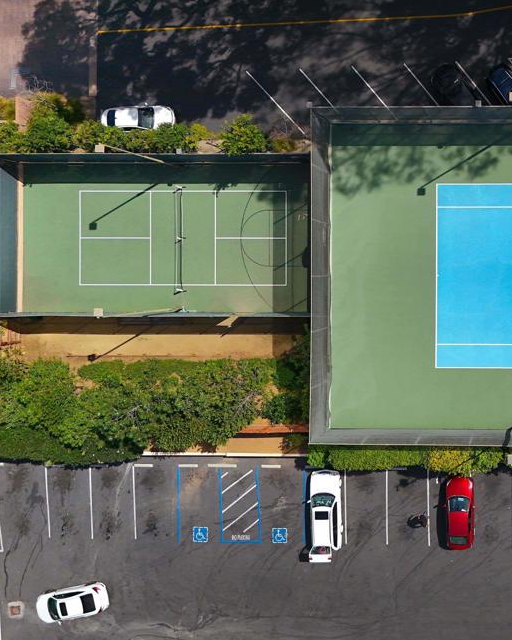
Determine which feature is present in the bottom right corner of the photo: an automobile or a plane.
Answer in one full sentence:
The one visible in the bottom right corner of the photo is an automobile.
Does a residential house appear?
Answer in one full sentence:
No, I can see no residential house in this picture.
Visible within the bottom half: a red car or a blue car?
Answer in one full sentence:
It is a red car that can be seen within the bottom half.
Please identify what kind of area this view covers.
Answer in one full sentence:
This image shows a sports ground.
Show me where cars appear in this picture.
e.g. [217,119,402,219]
[103,99,177,134]
[444,62,498,106]
[443,475,476,549]
[39,580,112,625]
[304,470,342,560]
